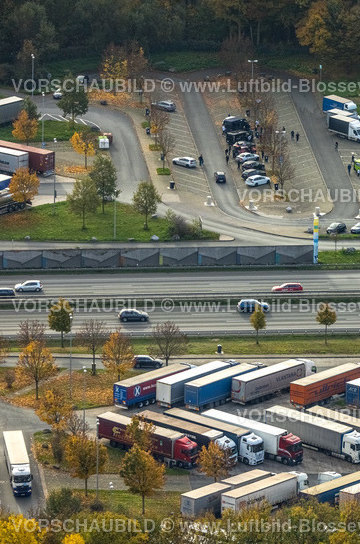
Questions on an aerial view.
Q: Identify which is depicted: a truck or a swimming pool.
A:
truck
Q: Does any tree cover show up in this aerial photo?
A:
Yes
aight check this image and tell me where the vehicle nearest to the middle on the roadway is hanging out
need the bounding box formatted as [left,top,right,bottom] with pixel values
[118,308,150,322]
